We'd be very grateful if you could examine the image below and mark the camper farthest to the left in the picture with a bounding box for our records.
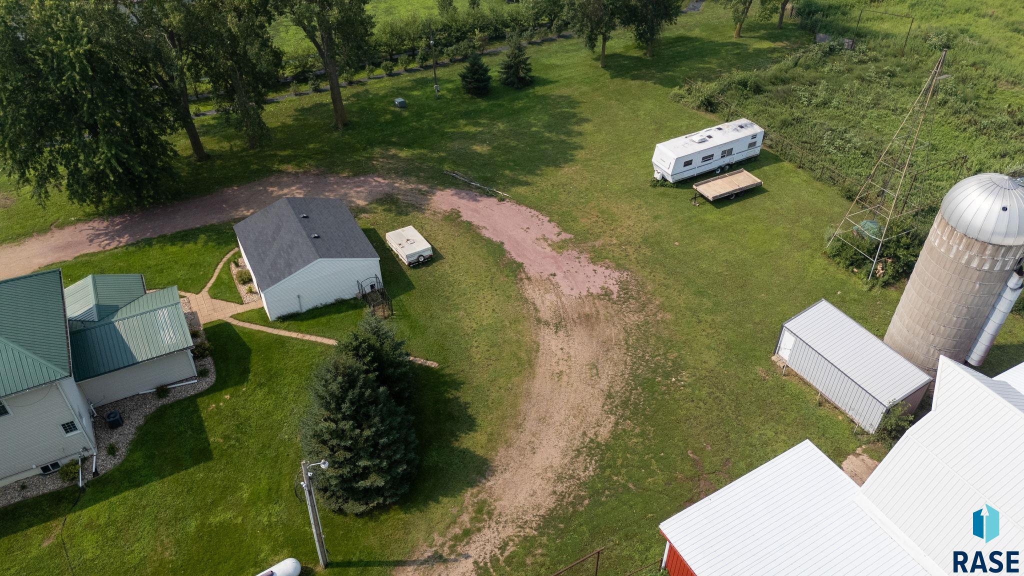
[387,227,433,268]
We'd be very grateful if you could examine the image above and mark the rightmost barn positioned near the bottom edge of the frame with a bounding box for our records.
[658,354,1024,576]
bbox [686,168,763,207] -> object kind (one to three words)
trailer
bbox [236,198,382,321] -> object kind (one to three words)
building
